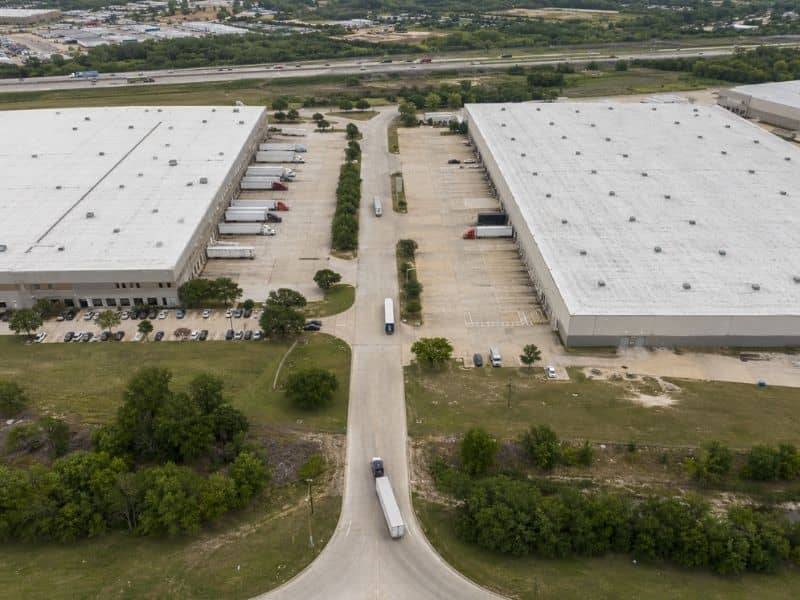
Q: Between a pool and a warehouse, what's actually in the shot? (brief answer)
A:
warehouse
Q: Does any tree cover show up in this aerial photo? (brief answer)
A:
Yes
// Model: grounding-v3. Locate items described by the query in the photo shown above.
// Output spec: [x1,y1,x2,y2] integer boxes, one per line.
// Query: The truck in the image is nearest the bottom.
[375,462,404,539]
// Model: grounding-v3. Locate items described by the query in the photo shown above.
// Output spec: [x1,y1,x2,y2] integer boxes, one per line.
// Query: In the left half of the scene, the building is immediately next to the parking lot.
[0,105,269,310]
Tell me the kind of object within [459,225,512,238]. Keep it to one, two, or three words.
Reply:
vehicle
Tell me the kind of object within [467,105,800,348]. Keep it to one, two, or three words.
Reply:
warehouse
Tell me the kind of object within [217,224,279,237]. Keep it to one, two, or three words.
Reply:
vehicle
